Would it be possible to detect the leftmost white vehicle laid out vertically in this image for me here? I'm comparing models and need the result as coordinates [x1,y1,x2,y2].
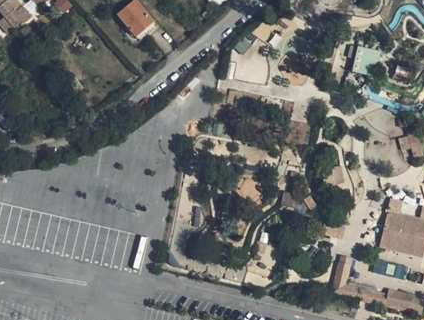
[133,236,148,270]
